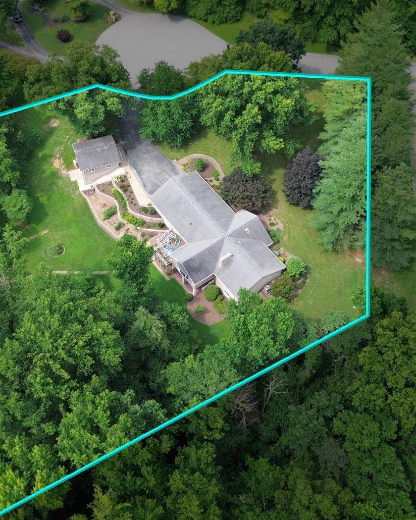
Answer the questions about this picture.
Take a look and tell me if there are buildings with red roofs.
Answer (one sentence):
No, I can't see a single building with a red roof in this photo.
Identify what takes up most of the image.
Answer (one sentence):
The scene is dominated by trees.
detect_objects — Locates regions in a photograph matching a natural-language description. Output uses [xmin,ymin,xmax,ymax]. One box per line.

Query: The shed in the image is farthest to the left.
[72,134,121,185]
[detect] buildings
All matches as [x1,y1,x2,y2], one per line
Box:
[72,134,121,185]
[148,171,285,306]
